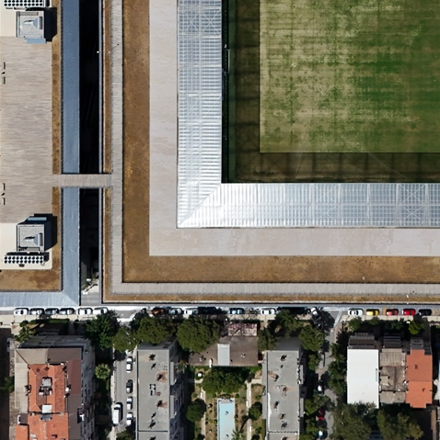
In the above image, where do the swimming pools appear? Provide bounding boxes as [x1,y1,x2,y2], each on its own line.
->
[217,399,235,440]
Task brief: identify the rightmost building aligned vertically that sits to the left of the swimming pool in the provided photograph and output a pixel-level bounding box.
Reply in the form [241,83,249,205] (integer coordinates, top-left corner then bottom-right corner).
[137,335,183,440]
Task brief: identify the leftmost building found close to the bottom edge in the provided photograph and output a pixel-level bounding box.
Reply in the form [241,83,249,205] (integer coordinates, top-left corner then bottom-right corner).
[14,333,97,440]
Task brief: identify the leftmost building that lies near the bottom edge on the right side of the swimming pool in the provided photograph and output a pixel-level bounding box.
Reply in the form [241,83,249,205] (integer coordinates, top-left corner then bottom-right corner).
[266,335,307,440]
